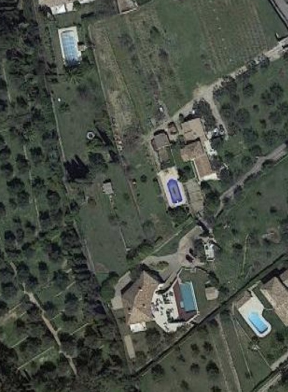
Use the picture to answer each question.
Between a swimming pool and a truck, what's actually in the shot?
swimming pool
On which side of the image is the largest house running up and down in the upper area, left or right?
right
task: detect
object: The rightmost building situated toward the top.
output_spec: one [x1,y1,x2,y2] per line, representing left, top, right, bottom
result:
[181,119,213,181]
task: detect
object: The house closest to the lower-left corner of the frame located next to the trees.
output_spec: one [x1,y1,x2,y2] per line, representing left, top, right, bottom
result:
[122,271,160,326]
